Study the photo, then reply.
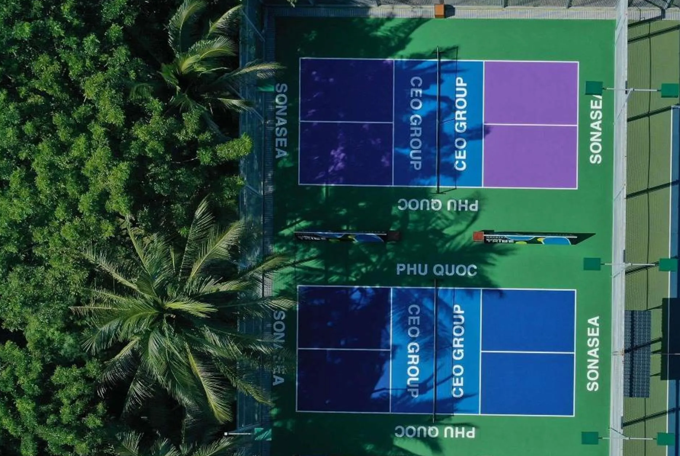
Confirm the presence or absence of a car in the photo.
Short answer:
No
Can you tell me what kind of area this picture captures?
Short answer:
sports ground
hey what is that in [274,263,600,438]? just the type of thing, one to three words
sports court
